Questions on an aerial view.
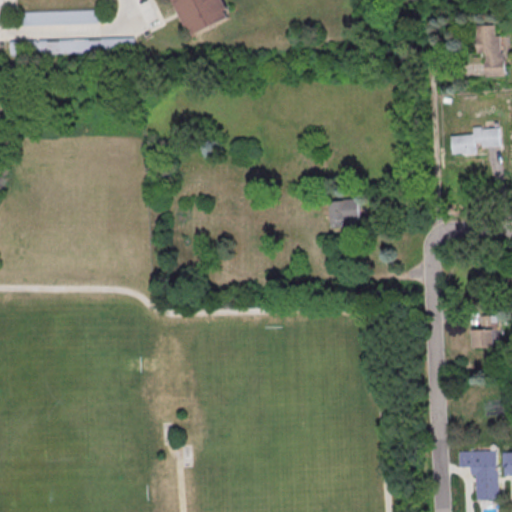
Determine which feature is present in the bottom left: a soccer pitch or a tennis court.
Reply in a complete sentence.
There is a soccer pitch in the bottom left.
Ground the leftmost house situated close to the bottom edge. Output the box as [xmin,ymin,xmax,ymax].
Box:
[459,451,499,500]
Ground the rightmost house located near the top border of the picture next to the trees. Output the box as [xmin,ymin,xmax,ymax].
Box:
[466,24,510,78]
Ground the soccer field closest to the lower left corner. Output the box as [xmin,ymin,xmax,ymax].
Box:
[0,306,154,512]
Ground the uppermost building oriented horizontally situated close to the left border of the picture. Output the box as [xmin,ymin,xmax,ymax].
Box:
[16,10,104,26]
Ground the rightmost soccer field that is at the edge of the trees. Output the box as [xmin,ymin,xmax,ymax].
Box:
[186,320,384,512]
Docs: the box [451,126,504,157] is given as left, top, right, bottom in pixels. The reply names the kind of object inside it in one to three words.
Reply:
house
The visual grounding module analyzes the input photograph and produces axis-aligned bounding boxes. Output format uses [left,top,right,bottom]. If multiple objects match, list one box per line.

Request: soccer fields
[0,306,154,512]
[186,320,384,512]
